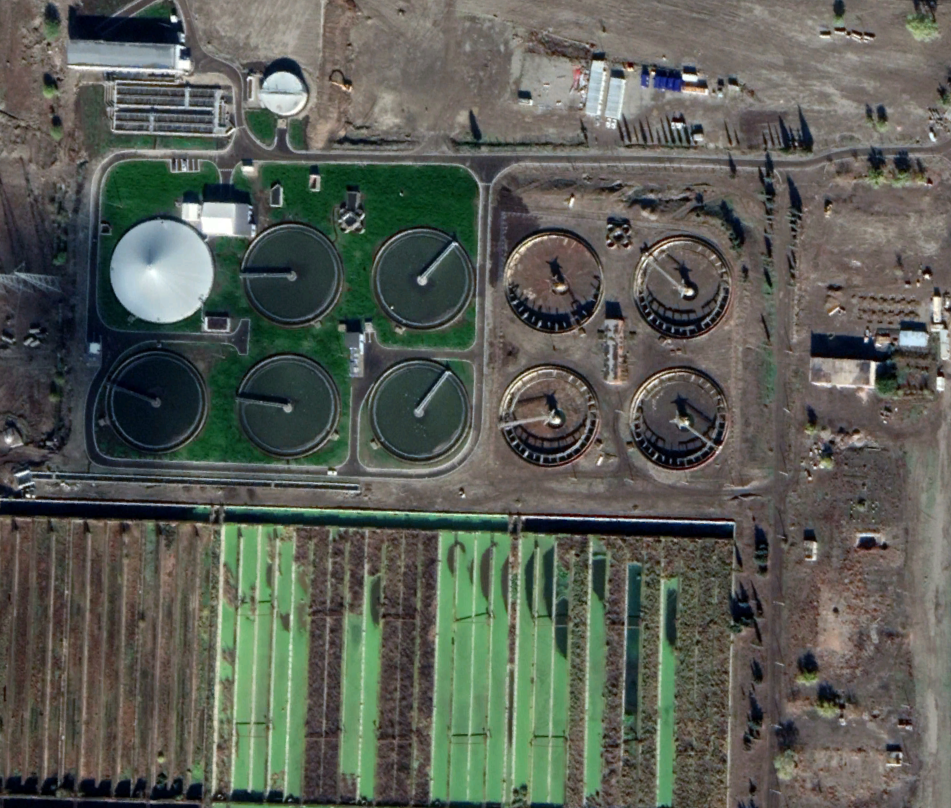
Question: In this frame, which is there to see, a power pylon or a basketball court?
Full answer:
I can see a power pylon in this picture.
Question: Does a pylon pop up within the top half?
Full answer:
Yes, within the top half there is a pylon.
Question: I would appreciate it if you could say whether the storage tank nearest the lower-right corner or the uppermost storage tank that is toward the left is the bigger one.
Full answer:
It is the storage tank nearest the lower-right corner that is larger, not the uppermost storage tank that is toward the left.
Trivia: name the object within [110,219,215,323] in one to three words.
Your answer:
storage tank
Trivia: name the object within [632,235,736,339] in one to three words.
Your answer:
storage tank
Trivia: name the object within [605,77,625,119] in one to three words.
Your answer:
shed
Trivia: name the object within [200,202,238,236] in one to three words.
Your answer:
building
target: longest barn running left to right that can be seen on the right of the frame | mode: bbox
[808,357,876,389]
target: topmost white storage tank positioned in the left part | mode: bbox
[258,71,309,118]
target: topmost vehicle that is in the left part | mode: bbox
[332,79,356,93]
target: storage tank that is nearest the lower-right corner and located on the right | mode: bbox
[629,366,733,471]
